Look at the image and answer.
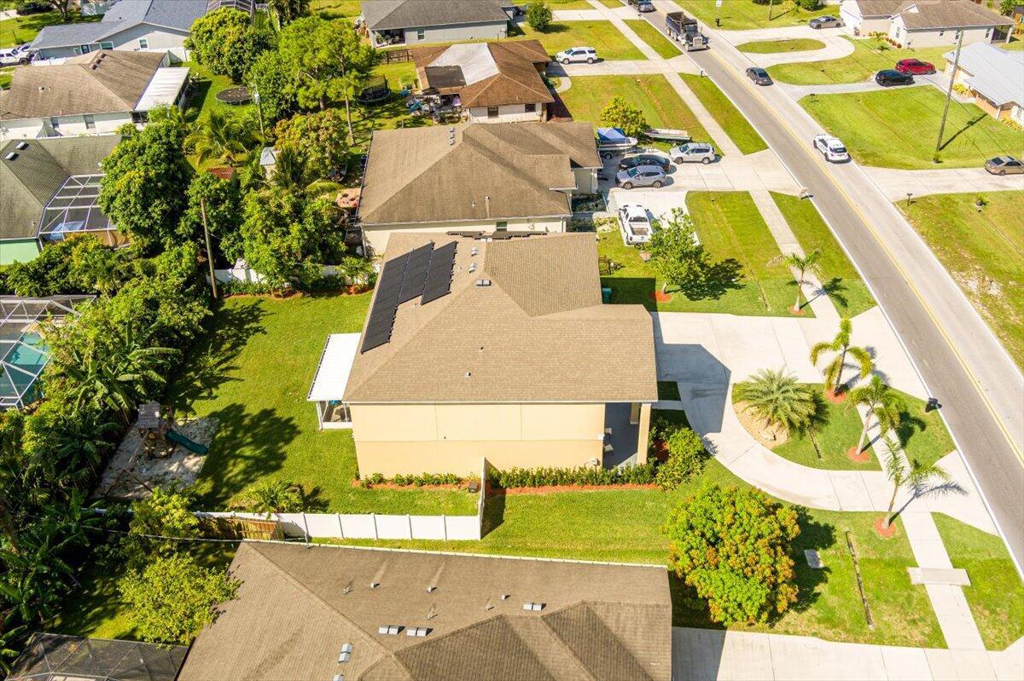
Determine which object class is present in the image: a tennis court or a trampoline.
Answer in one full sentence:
The image shows a trampoline.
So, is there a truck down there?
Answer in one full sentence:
Yes, the photo shows a truck.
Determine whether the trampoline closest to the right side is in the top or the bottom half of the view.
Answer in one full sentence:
You can find the trampoline closest to the right side in the top half.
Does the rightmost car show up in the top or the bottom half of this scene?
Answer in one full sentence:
The rightmost car is in the top half of the image.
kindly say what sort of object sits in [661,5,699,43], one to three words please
truck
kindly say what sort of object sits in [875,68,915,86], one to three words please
car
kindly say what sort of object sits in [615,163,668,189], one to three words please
car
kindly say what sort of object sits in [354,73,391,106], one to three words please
trampoline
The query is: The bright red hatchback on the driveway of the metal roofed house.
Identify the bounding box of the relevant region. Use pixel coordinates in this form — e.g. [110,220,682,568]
[896,57,937,74]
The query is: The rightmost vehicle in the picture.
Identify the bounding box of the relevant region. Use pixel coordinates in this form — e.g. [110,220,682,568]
[980,152,1024,174]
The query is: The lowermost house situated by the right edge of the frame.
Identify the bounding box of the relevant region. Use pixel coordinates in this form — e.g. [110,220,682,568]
[940,38,1024,129]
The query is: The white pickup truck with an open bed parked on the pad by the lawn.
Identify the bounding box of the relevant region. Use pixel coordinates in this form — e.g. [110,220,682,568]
[623,211,651,248]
